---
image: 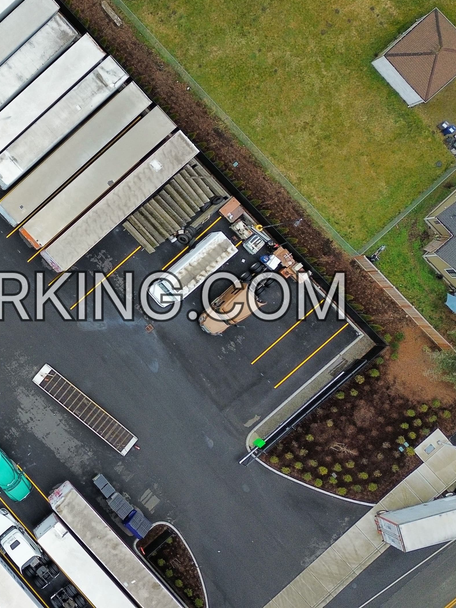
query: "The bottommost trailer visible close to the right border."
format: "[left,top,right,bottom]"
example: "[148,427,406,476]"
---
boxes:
[372,494,456,553]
